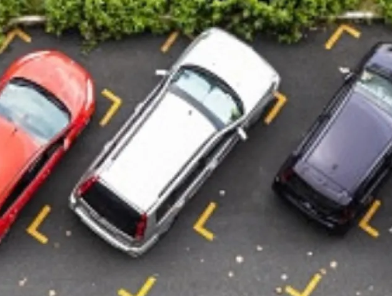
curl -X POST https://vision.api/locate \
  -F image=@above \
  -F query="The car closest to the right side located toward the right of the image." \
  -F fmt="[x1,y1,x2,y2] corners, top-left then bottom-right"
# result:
[275,38,392,238]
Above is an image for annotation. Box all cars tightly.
[70,27,279,260]
[0,45,96,247]
[275,38,392,238]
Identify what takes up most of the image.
paved ground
